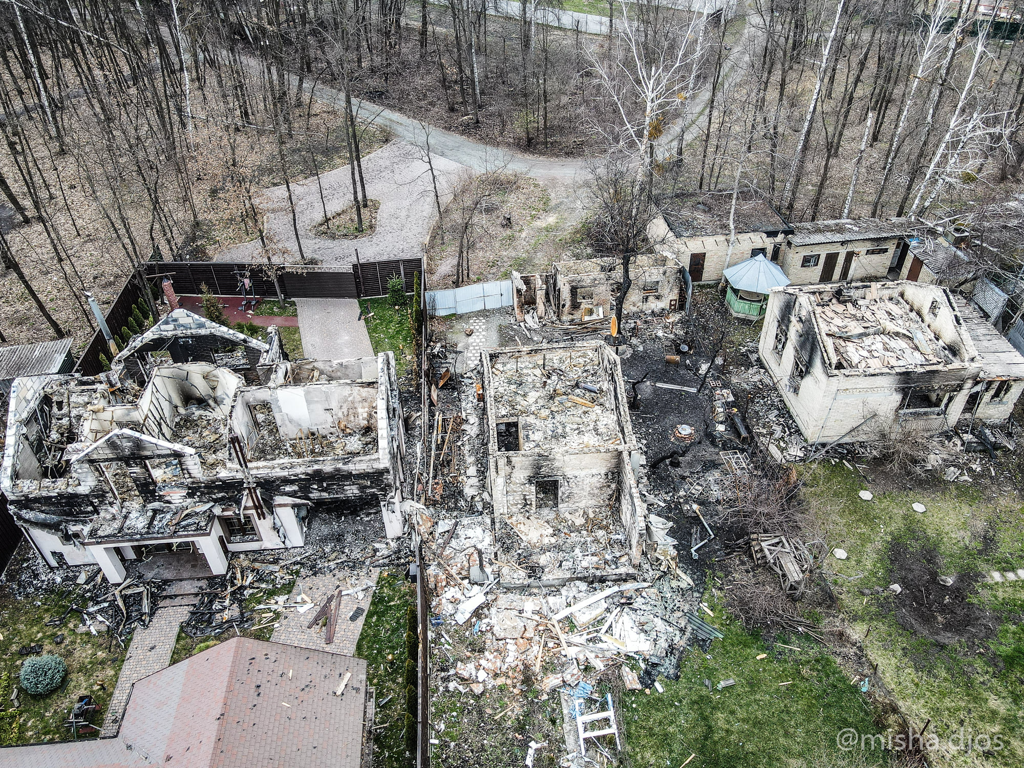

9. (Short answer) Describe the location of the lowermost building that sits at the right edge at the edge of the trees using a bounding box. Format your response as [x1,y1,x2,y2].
[760,281,1024,457]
